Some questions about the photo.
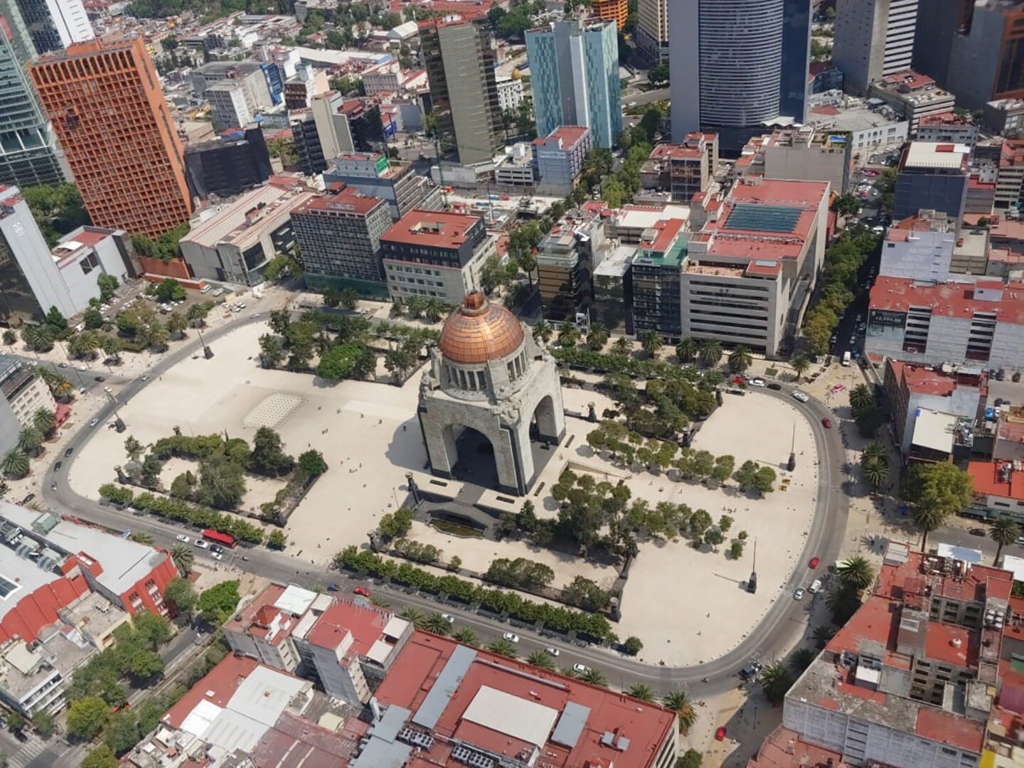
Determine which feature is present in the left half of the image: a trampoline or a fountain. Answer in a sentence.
There is a fountain in the left half of the image.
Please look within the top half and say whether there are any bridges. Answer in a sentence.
No, looking within the top half, there is no bridge.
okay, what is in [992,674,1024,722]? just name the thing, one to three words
house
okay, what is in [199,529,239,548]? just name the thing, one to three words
vehicle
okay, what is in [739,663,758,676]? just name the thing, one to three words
vehicle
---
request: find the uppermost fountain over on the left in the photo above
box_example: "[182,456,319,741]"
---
[242,394,304,429]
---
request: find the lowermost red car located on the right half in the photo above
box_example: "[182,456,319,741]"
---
[714,725,727,740]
